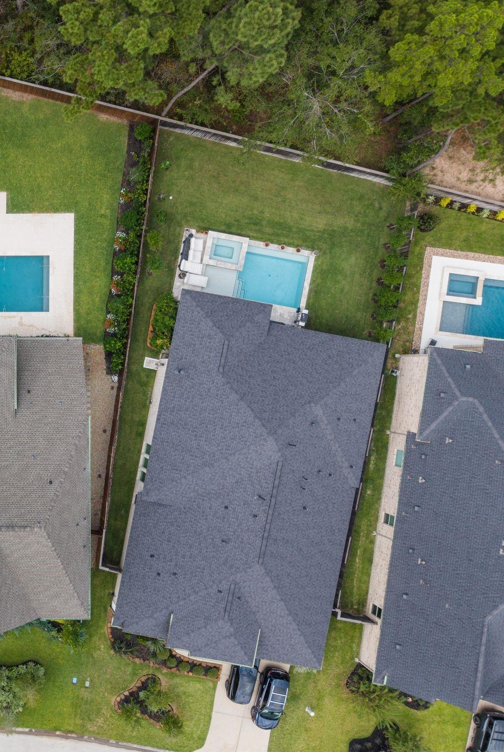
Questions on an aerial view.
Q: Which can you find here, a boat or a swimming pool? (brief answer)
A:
swimming pool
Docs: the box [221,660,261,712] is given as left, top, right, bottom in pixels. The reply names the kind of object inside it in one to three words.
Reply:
car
